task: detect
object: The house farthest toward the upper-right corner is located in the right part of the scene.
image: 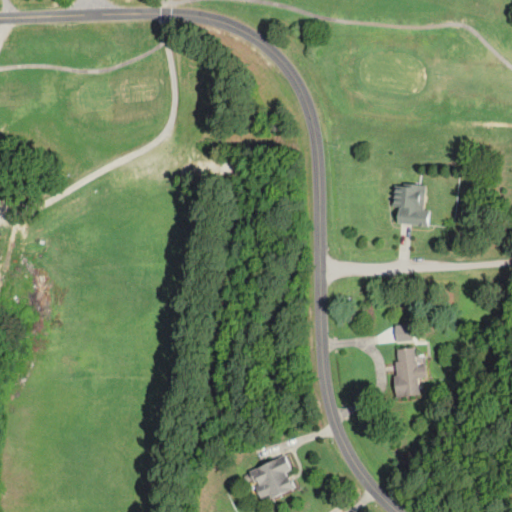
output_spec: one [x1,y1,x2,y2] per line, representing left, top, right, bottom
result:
[392,183,432,227]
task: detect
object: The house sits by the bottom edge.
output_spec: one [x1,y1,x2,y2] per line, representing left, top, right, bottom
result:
[250,456,298,501]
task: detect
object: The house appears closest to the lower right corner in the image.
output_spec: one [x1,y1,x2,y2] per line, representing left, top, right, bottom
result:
[392,346,428,398]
